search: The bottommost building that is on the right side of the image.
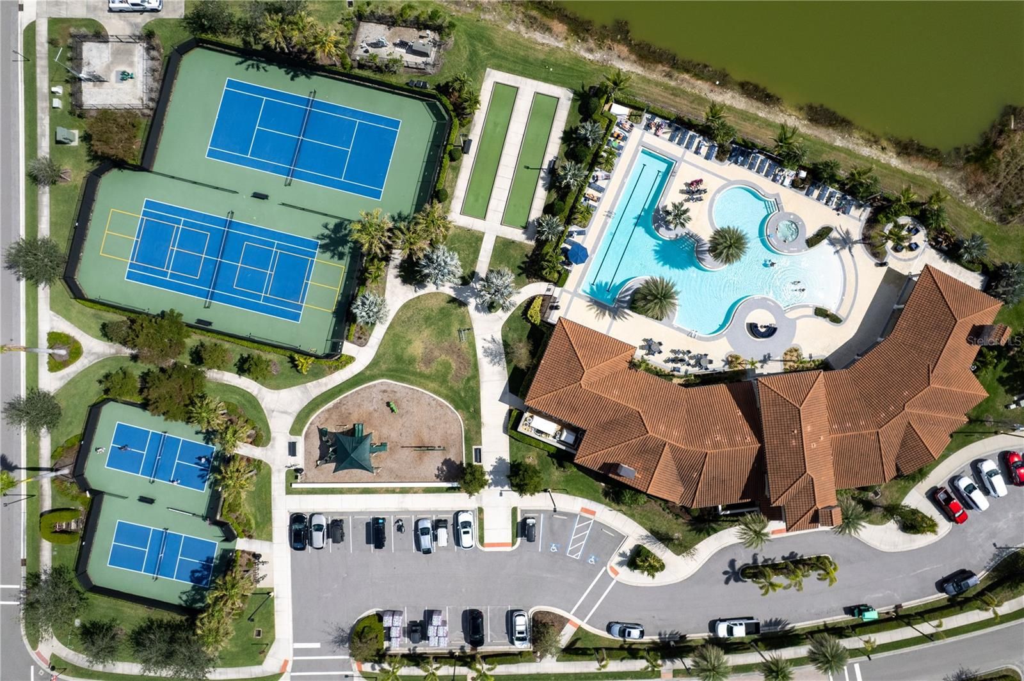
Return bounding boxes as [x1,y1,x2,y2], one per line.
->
[525,264,1011,532]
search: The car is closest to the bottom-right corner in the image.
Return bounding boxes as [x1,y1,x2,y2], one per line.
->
[945,573,985,597]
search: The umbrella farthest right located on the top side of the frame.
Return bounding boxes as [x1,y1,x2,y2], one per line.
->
[567,243,587,263]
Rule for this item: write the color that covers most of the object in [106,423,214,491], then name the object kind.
blue sports court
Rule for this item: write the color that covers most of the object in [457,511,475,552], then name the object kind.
white car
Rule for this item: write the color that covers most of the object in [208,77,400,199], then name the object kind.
blue tennis court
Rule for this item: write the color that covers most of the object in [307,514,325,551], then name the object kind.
white car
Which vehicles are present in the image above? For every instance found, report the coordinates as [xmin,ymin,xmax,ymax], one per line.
[526,519,536,545]
[936,486,972,525]
[397,520,404,533]
[1007,449,1024,486]
[468,610,485,648]
[959,476,991,512]
[408,623,420,648]
[980,461,1010,498]
[416,519,433,556]
[457,511,475,552]
[945,573,985,597]
[307,514,325,551]
[371,518,384,551]
[717,620,762,641]
[328,520,343,547]
[435,524,448,551]
[288,514,306,553]
[512,612,529,649]
[609,623,646,643]
[854,607,882,623]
